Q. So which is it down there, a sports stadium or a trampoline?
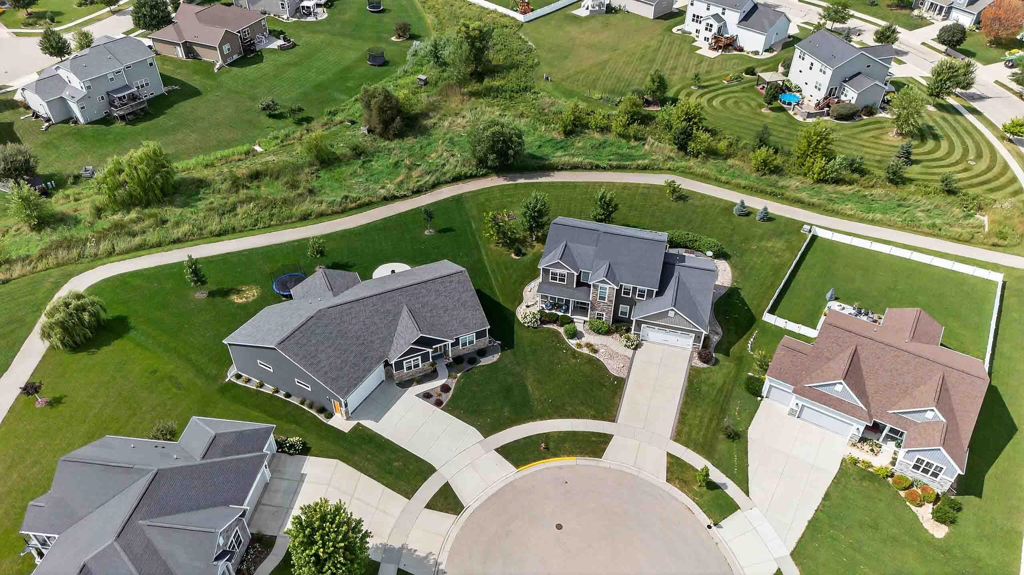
trampoline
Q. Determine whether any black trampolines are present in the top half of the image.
Yes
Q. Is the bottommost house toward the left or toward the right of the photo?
left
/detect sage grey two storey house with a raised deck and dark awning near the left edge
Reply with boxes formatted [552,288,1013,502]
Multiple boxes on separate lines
[19,34,173,122]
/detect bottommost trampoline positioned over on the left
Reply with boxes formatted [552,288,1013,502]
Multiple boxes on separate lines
[270,263,308,300]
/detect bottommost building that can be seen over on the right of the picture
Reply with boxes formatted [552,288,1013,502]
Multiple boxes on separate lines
[764,302,993,501]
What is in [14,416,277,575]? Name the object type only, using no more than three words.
house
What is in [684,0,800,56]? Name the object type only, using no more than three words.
house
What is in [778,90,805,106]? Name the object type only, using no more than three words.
swimming pool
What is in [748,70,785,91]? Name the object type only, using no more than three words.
gazebo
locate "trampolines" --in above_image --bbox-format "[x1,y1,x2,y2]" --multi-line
[365,48,387,68]
[270,263,308,300]
[366,0,383,12]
